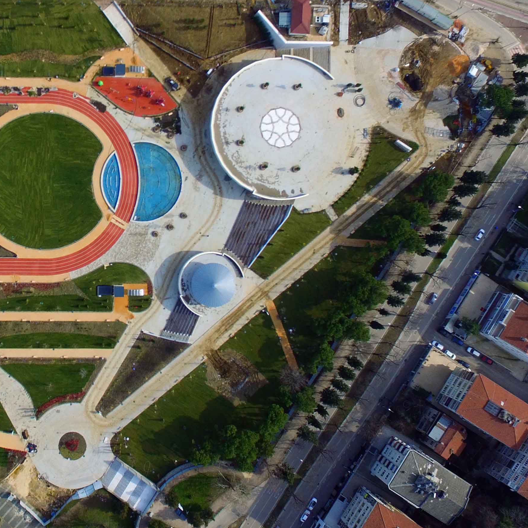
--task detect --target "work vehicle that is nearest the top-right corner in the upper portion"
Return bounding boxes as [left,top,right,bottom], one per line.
[481,55,496,73]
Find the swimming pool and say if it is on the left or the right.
left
